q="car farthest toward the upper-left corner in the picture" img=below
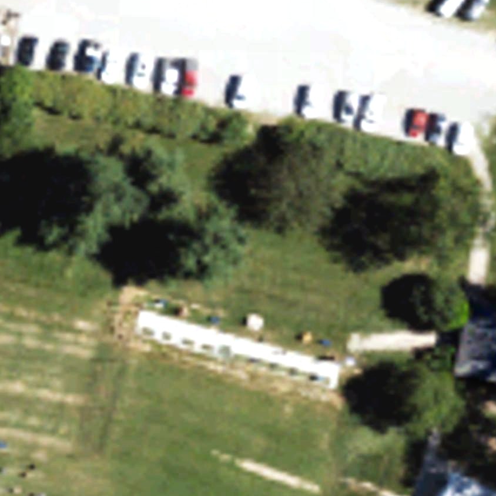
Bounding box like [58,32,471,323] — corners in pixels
[23,36,39,67]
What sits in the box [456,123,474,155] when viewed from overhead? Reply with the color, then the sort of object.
white car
